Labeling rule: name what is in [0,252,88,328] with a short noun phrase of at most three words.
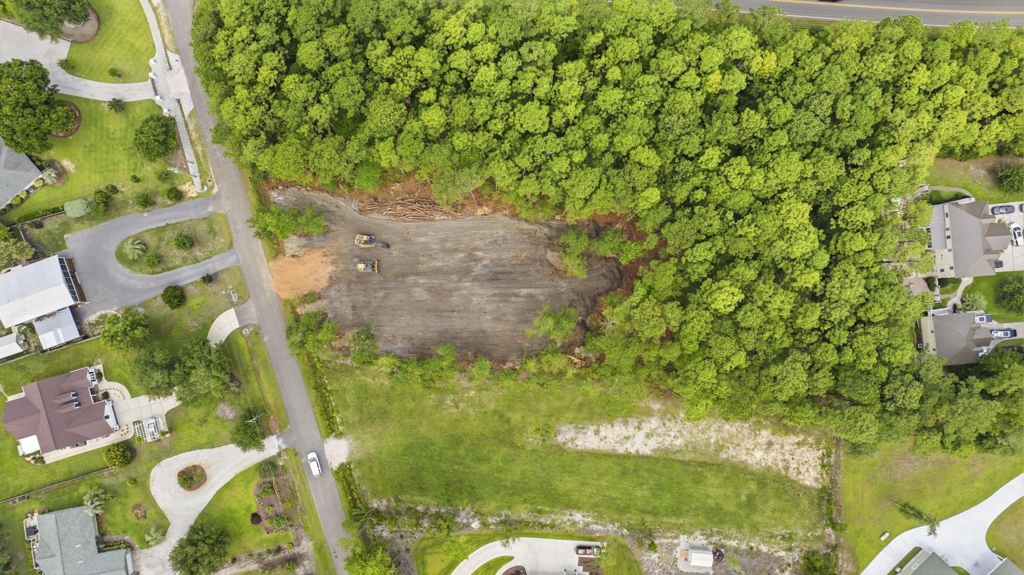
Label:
barn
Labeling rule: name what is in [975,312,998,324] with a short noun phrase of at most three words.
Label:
vehicle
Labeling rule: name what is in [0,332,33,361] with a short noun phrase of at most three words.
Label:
shed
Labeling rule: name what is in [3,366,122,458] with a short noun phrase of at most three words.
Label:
house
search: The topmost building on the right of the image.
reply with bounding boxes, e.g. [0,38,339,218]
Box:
[923,197,1013,277]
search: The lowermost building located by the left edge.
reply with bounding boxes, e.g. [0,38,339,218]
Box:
[20,503,136,575]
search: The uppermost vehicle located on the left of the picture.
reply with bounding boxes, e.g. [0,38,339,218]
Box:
[357,234,390,249]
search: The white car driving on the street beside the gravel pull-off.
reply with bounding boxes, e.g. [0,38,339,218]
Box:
[306,450,322,478]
